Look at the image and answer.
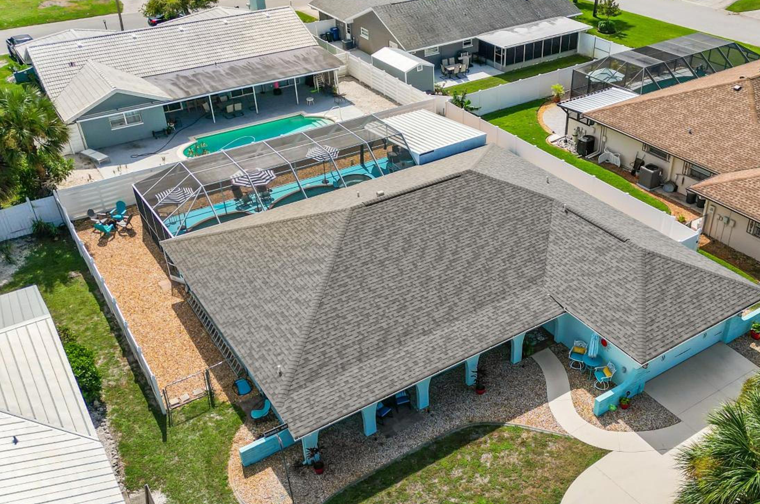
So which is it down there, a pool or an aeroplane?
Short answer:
pool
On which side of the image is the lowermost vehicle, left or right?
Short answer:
left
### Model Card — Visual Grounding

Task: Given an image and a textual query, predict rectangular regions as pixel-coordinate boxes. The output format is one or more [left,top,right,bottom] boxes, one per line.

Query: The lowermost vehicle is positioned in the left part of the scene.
[1,28,27,55]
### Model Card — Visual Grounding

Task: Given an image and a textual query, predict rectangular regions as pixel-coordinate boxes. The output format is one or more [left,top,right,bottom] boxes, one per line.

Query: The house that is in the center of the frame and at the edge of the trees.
[161,133,760,466]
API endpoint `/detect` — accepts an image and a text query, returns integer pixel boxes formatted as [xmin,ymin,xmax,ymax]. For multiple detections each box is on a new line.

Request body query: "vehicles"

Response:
[143,6,191,24]
[1,28,27,55]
